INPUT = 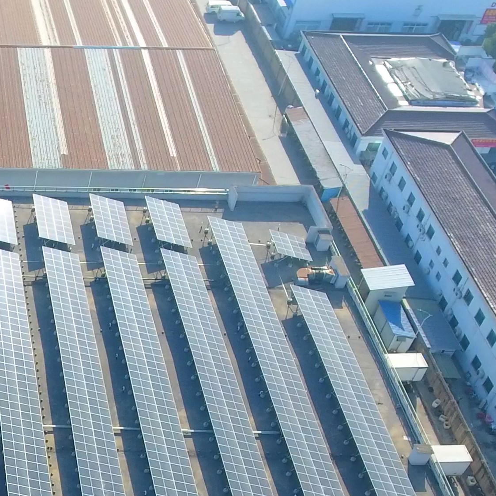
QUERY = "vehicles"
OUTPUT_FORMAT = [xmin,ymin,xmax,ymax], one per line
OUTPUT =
[216,6,247,22]
[204,0,233,12]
